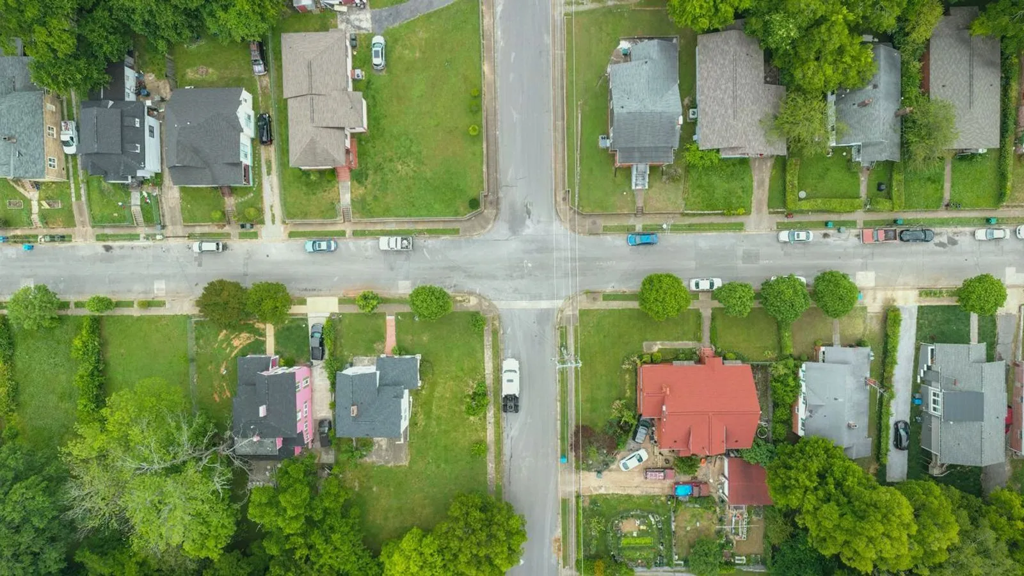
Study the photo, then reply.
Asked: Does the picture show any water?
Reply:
No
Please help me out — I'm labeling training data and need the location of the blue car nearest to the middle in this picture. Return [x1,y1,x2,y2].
[626,232,658,247]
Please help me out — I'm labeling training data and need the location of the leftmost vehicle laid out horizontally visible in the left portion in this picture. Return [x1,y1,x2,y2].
[194,239,227,254]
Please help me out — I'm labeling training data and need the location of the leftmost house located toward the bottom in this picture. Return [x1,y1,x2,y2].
[233,355,311,456]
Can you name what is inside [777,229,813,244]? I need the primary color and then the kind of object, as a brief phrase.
white car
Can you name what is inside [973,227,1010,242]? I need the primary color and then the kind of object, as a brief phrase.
white car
